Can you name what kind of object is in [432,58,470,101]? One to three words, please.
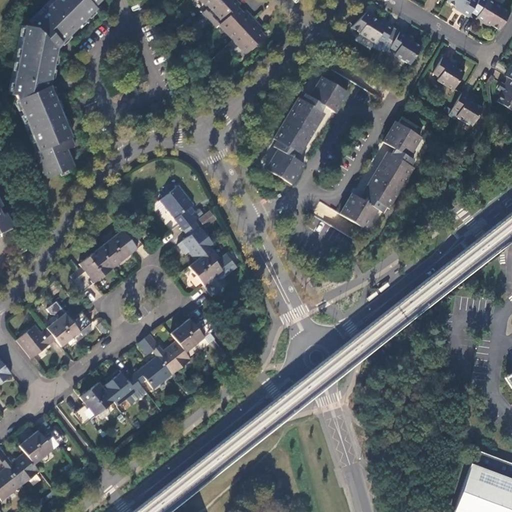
house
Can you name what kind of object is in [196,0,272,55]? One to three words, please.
building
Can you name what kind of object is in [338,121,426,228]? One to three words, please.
building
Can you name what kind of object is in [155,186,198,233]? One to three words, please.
house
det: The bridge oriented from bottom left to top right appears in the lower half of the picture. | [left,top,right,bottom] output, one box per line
[134,213,512,512]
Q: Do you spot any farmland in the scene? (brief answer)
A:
No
